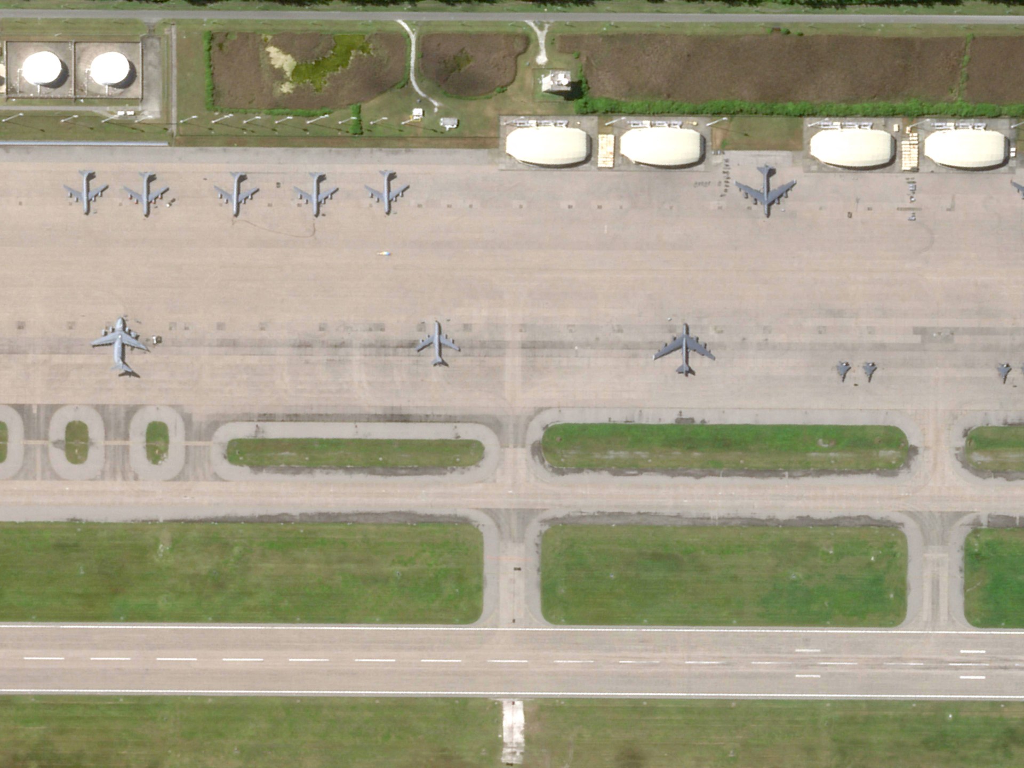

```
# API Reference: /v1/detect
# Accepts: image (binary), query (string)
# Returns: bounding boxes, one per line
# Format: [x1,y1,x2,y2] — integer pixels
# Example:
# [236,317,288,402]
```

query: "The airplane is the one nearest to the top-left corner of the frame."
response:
[64,168,109,214]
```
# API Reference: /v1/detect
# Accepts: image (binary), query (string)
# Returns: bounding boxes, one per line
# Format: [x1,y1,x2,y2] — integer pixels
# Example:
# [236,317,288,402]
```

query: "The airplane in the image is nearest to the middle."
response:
[416,321,460,365]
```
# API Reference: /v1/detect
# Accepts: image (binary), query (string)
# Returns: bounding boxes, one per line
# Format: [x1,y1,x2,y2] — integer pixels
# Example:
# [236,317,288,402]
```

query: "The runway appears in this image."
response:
[0,622,1024,701]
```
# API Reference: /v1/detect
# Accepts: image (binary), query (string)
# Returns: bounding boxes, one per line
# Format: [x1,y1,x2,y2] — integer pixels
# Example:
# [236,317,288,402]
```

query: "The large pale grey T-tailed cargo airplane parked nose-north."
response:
[91,317,148,373]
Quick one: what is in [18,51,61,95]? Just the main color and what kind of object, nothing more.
white storage tank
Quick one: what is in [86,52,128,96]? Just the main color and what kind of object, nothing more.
white storage tank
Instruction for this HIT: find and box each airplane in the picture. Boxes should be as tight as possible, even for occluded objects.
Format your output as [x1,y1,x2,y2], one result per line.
[654,323,716,373]
[124,170,169,216]
[416,321,460,365]
[736,164,797,215]
[64,168,109,214]
[863,360,877,380]
[294,171,338,216]
[365,169,409,215]
[998,361,1012,380]
[214,170,258,217]
[837,360,851,380]
[91,317,148,373]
